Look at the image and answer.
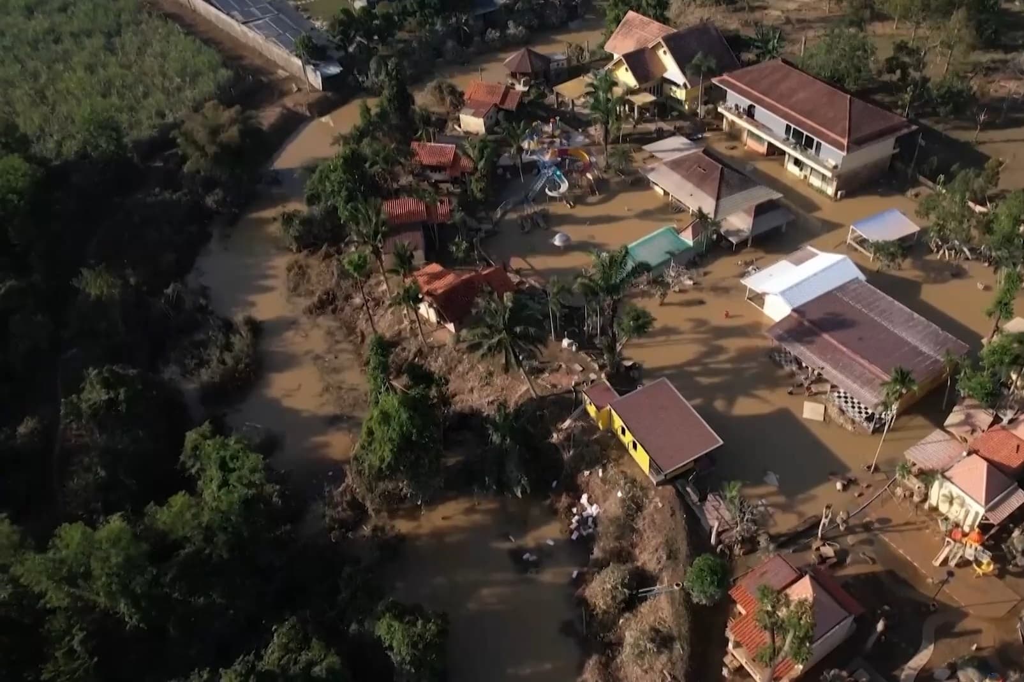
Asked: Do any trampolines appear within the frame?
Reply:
No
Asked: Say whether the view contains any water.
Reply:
Yes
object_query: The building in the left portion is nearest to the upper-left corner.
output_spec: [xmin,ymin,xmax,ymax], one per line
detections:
[221,0,317,82]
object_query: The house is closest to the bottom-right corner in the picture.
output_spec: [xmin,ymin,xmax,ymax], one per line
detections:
[927,451,1024,548]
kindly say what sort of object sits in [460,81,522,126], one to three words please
house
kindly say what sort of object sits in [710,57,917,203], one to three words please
building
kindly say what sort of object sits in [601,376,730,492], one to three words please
house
